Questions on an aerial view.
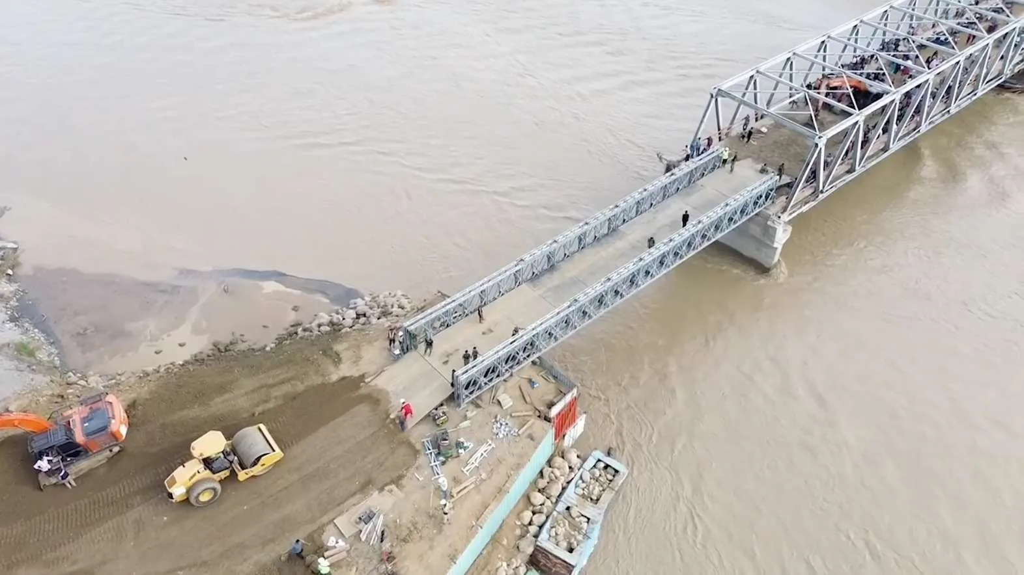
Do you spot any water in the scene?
Yes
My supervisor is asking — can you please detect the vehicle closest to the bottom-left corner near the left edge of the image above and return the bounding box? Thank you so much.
[0,389,131,488]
